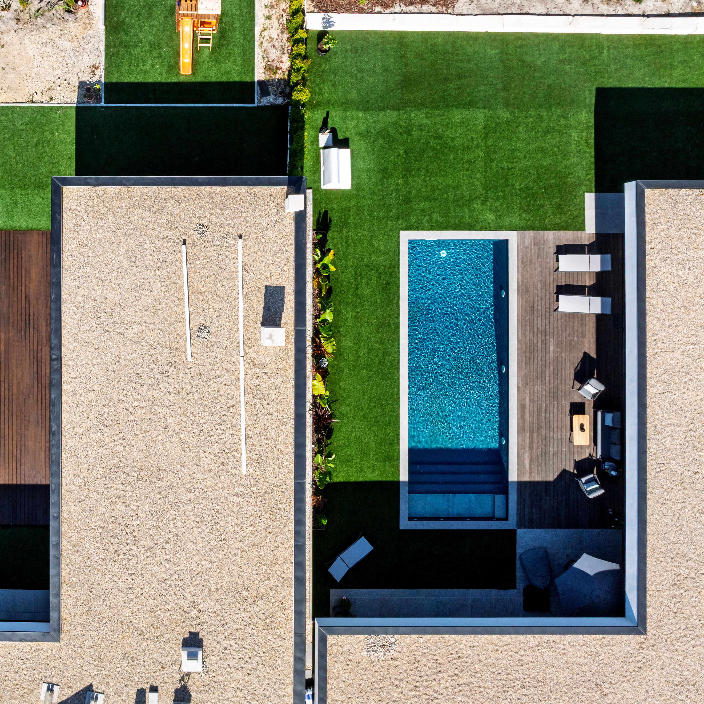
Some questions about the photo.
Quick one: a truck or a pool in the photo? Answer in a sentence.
This aerial view contains a pool.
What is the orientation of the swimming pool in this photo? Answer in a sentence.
I'd say the swimming pool is aligned vertically in the picture.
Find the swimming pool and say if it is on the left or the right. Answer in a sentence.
You can find the swimming pool on the right side of the picture.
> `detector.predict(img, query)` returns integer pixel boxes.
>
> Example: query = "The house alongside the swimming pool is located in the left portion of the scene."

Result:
[0,176,306,704]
